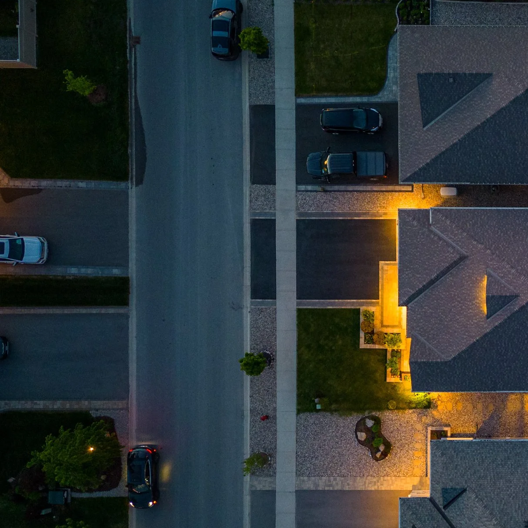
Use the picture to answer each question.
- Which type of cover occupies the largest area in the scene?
paved ground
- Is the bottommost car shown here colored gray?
No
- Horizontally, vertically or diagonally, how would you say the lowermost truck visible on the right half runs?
horizontally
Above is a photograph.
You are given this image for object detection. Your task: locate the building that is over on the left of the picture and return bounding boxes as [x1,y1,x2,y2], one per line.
[0,0,36,70]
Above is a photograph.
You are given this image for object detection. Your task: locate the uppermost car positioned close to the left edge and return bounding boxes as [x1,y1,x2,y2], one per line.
[0,234,46,267]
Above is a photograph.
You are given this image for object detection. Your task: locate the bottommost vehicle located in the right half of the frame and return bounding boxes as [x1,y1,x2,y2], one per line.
[306,146,387,183]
